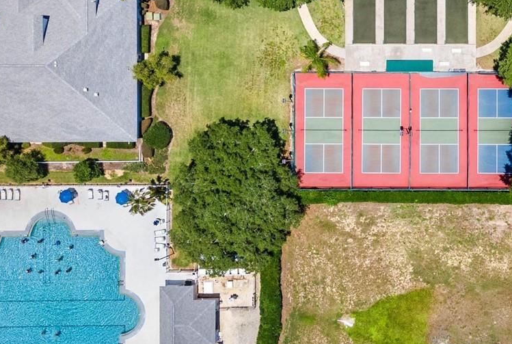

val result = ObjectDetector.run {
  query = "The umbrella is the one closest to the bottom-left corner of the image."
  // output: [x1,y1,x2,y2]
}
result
[62,189,76,202]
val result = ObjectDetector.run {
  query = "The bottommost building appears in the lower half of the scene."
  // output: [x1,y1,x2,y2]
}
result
[159,284,220,344]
